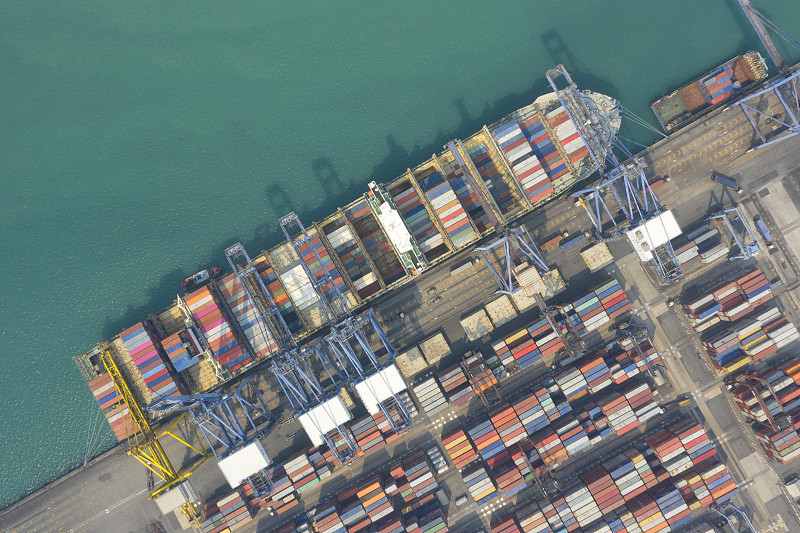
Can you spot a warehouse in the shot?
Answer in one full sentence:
No, there is no warehouse in the image.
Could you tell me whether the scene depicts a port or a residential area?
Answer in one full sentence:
This image shows a port.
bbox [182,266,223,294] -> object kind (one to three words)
boat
